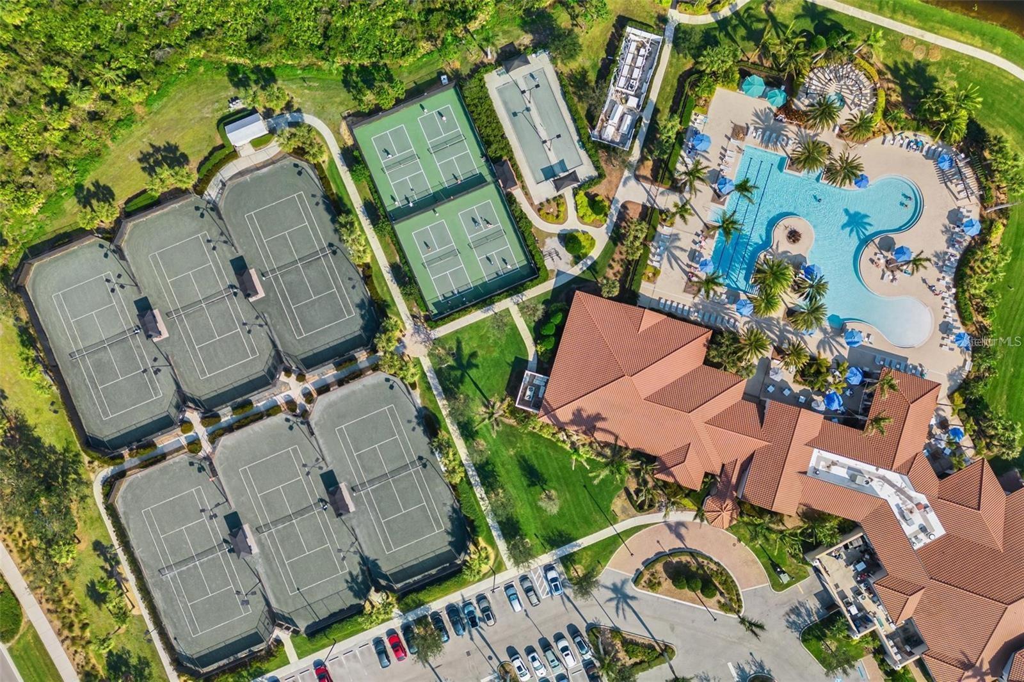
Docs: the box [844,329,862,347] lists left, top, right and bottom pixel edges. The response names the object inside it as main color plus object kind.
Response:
blue umbrella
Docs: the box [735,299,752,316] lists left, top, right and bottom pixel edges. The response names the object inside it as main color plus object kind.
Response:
blue umbrella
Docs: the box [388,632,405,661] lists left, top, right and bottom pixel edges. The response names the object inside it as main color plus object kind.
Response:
red car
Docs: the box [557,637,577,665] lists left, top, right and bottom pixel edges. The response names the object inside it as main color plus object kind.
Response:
white car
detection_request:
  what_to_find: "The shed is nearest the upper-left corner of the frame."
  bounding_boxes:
[225,113,271,147]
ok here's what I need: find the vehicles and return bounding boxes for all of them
[314,660,332,682]
[388,632,405,661]
[463,600,481,629]
[447,606,465,635]
[373,639,391,668]
[401,624,418,653]
[511,652,530,681]
[545,566,563,595]
[554,668,569,682]
[573,630,592,658]
[544,643,563,672]
[528,648,547,675]
[557,637,577,665]
[521,577,539,606]
[583,659,602,682]
[504,583,522,612]
[431,612,449,640]
[478,595,496,624]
